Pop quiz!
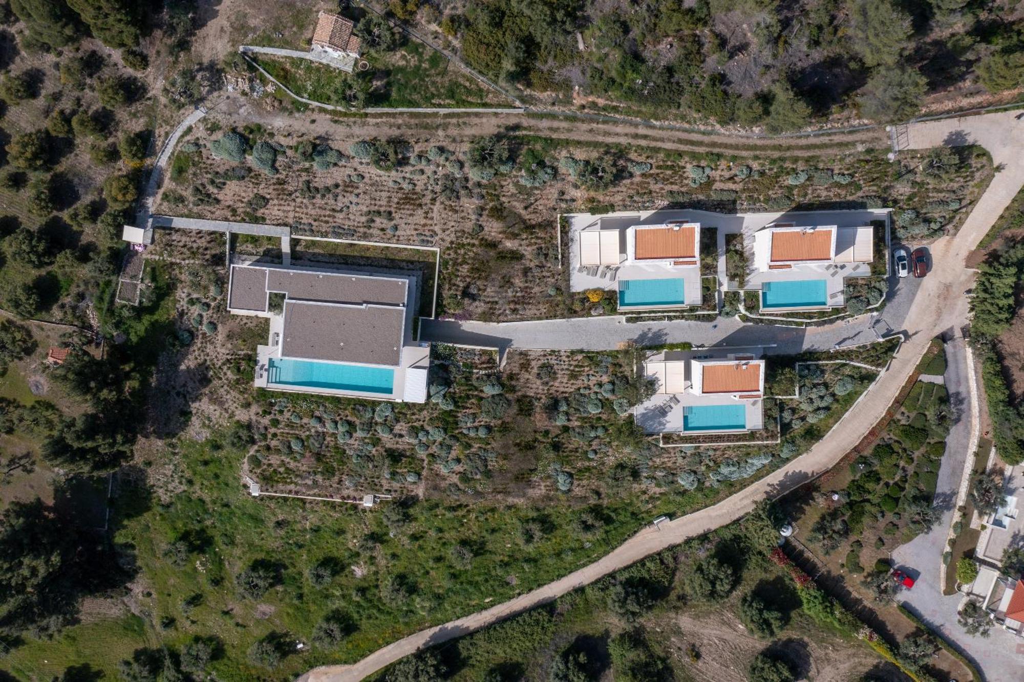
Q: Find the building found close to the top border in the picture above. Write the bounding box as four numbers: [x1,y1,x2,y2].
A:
[313,12,364,61]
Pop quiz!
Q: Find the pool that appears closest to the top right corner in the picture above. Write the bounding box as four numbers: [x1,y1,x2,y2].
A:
[762,280,826,309]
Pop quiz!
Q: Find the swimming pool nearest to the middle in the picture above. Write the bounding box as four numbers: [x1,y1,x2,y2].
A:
[619,279,683,308]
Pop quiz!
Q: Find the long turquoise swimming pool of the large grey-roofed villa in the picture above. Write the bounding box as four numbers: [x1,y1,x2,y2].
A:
[268,358,394,394]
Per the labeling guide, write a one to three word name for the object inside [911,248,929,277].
car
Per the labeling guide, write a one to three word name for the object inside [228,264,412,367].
house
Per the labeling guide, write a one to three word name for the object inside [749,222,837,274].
house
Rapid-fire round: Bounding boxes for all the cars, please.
[911,248,929,277]
[893,569,916,591]
[893,248,911,277]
